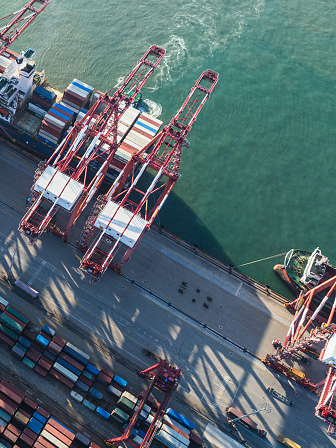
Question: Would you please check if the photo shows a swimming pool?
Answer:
No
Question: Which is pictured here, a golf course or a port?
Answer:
port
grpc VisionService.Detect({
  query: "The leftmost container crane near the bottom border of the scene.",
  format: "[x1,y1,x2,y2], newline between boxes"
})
[96,359,179,448]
